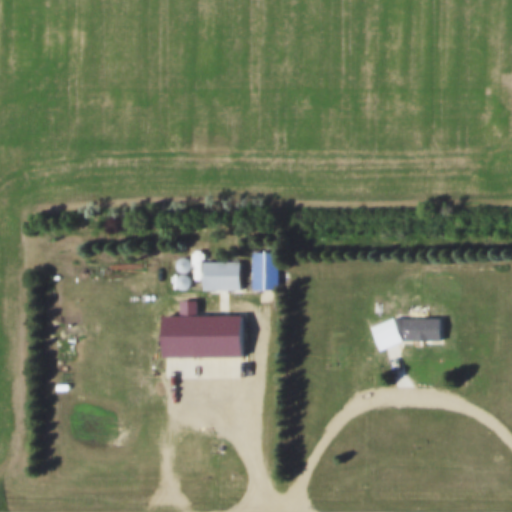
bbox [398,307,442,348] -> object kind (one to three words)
house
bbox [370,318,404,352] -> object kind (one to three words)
building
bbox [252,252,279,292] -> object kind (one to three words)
shed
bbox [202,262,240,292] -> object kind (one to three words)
shed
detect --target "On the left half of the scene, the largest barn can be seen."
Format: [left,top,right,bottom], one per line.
[160,298,244,358]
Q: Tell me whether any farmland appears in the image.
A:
Yes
